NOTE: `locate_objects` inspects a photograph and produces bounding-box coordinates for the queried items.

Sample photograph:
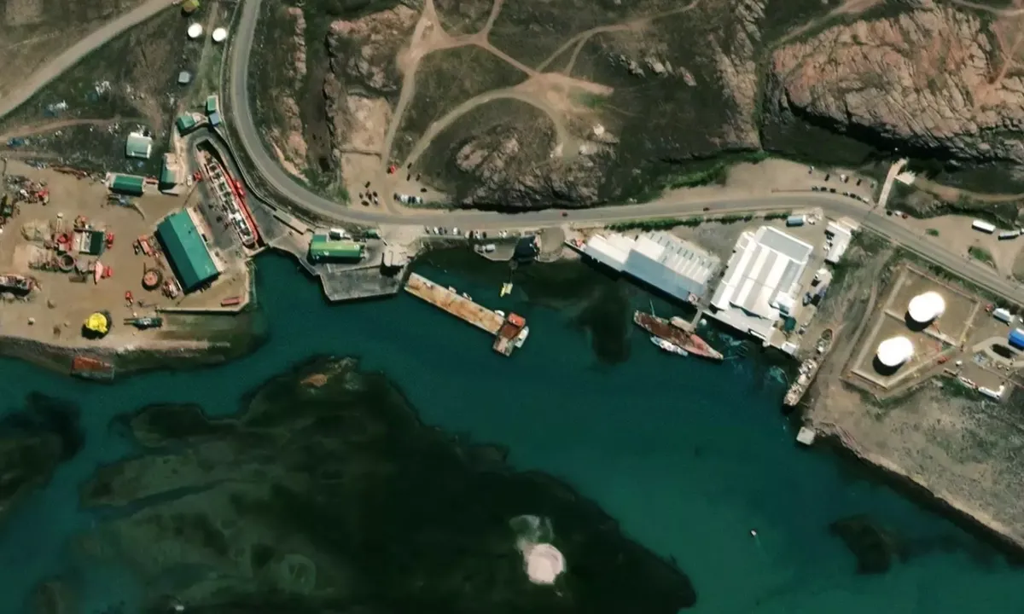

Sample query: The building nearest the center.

[514,235,538,256]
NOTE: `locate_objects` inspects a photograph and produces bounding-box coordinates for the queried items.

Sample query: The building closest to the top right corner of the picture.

[824,221,855,263]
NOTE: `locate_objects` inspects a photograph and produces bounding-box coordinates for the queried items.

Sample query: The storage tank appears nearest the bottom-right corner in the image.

[878,336,914,368]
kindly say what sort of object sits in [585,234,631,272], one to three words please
building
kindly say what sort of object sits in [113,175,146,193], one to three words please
building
